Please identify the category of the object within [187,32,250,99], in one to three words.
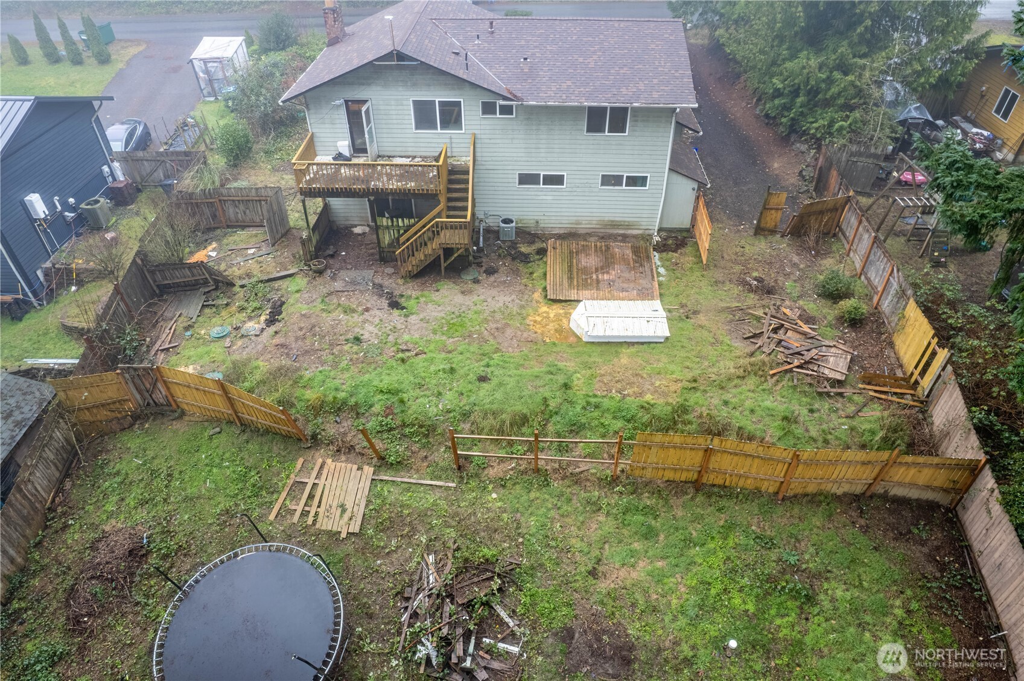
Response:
greenhouse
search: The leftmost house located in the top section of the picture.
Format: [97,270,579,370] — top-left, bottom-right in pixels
[0,93,111,297]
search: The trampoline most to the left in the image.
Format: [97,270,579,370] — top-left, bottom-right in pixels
[137,513,348,681]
